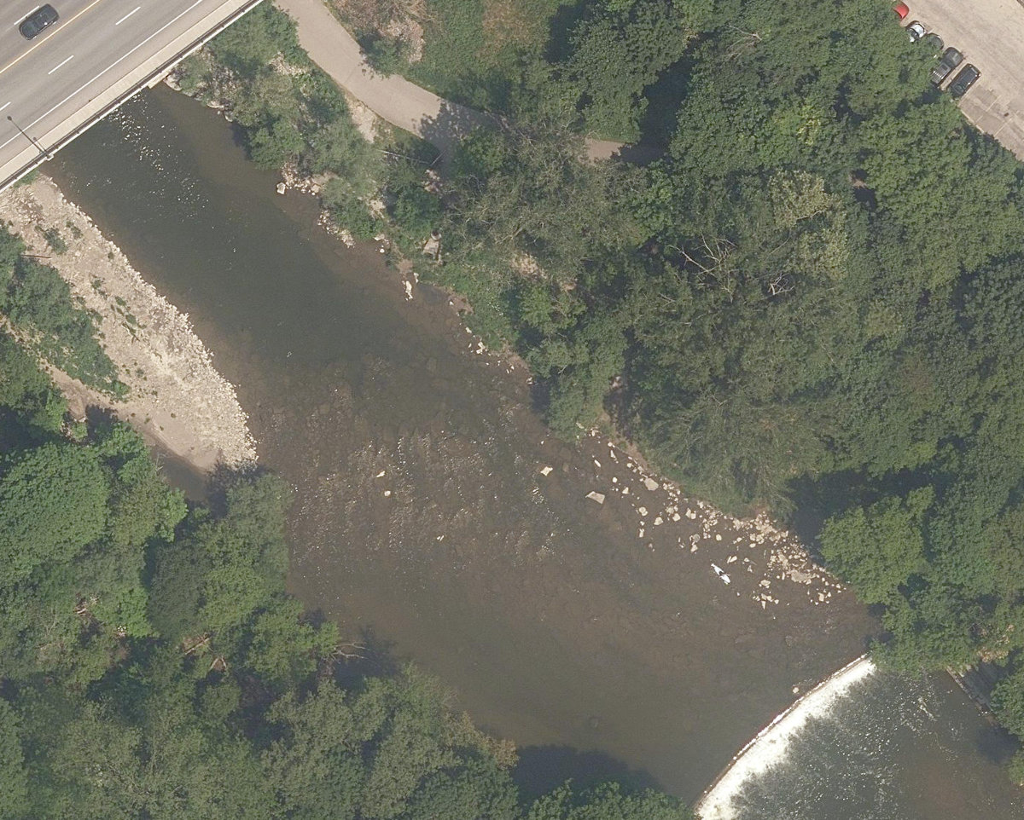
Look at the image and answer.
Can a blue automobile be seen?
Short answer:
No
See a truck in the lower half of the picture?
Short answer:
No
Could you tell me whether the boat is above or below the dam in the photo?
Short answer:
above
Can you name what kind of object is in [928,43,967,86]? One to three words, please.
truck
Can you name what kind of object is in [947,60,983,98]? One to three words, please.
car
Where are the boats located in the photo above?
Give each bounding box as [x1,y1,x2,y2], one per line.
[711,564,731,585]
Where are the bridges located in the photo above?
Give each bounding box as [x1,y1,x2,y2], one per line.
[0,0,269,194]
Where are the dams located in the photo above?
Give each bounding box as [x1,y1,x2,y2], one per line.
[690,647,889,820]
